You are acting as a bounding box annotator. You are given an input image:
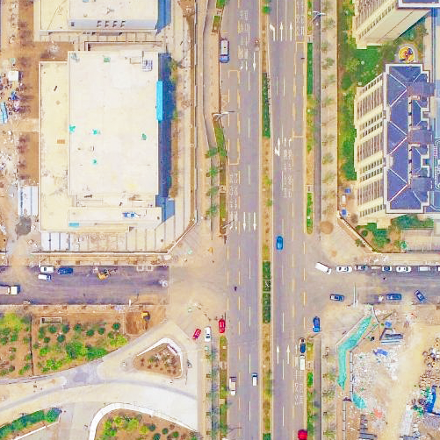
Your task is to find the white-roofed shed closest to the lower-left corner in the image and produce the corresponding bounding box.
[41,233,70,250]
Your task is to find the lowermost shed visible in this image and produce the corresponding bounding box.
[397,406,413,438]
